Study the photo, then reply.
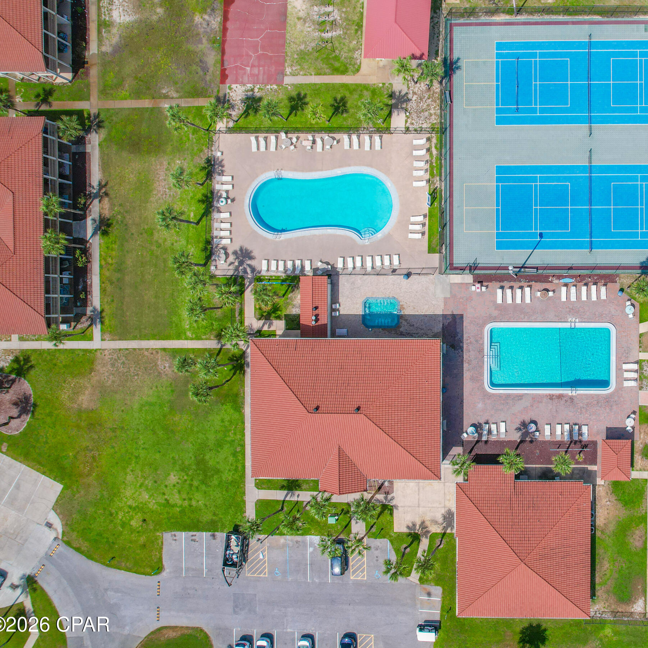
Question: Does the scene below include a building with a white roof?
No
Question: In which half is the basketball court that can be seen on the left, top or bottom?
top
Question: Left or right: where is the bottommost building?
right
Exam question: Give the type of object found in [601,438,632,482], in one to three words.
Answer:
shed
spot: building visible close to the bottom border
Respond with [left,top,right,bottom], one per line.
[454,464,593,620]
